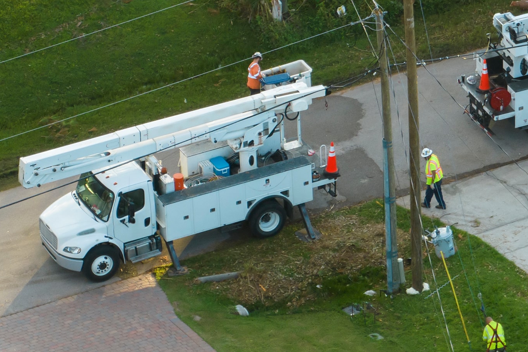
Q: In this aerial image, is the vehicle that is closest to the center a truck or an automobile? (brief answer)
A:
truck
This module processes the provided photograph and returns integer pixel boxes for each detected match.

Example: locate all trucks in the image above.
[13,69,345,279]
[448,9,528,140]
